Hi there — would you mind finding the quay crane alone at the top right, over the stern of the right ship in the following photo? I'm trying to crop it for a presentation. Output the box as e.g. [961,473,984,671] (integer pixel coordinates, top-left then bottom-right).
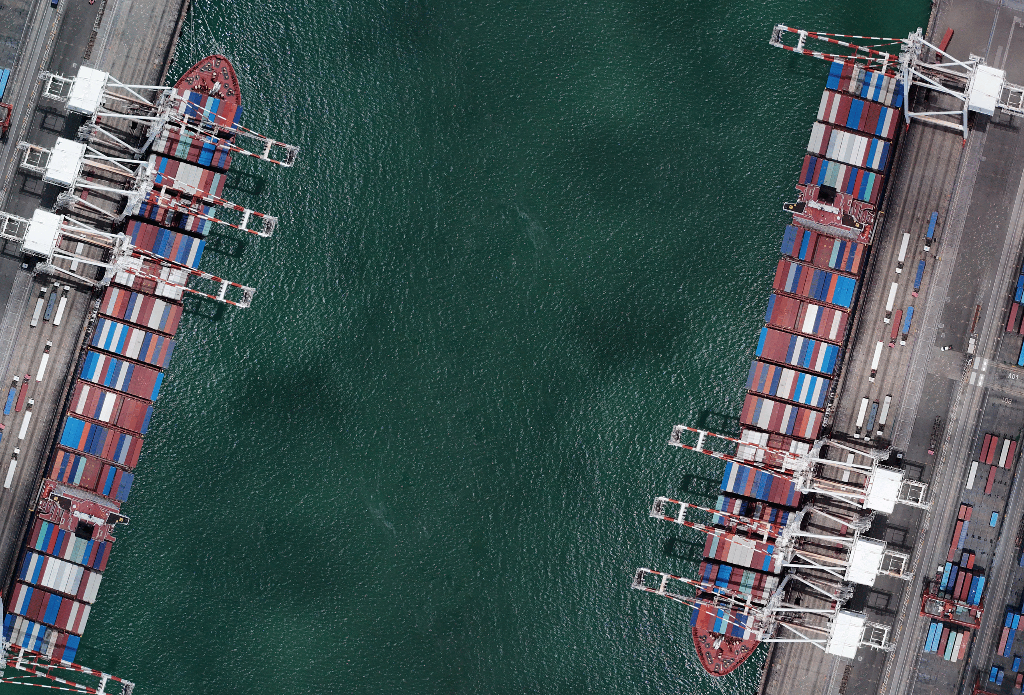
[765,21,1024,130]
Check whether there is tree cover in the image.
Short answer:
No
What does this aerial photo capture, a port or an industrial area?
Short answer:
port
